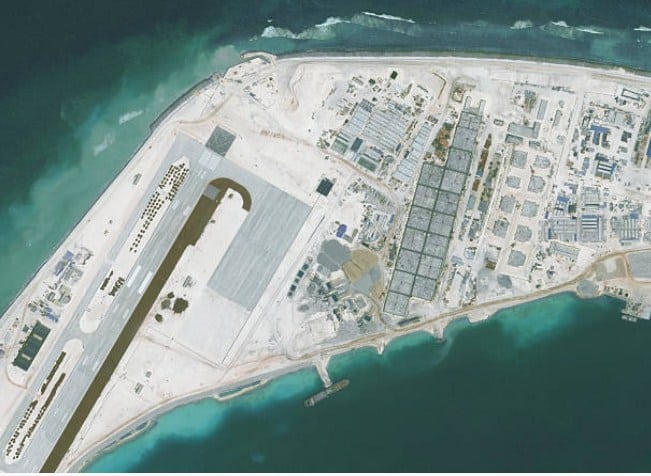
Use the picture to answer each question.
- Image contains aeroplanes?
No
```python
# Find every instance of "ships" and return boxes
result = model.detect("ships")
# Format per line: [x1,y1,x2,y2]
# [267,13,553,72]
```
[303,381,349,407]
[622,315,636,322]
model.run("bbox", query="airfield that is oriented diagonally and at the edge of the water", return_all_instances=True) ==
[0,133,313,476]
